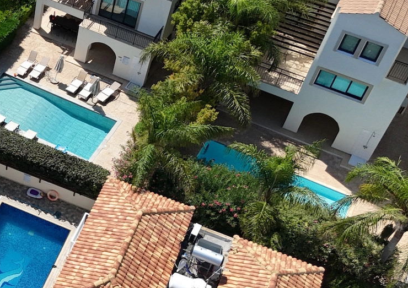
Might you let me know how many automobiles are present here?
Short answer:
0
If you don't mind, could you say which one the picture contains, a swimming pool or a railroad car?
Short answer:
swimming pool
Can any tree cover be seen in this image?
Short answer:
Yes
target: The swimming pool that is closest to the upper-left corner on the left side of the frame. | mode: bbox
[0,67,128,160]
